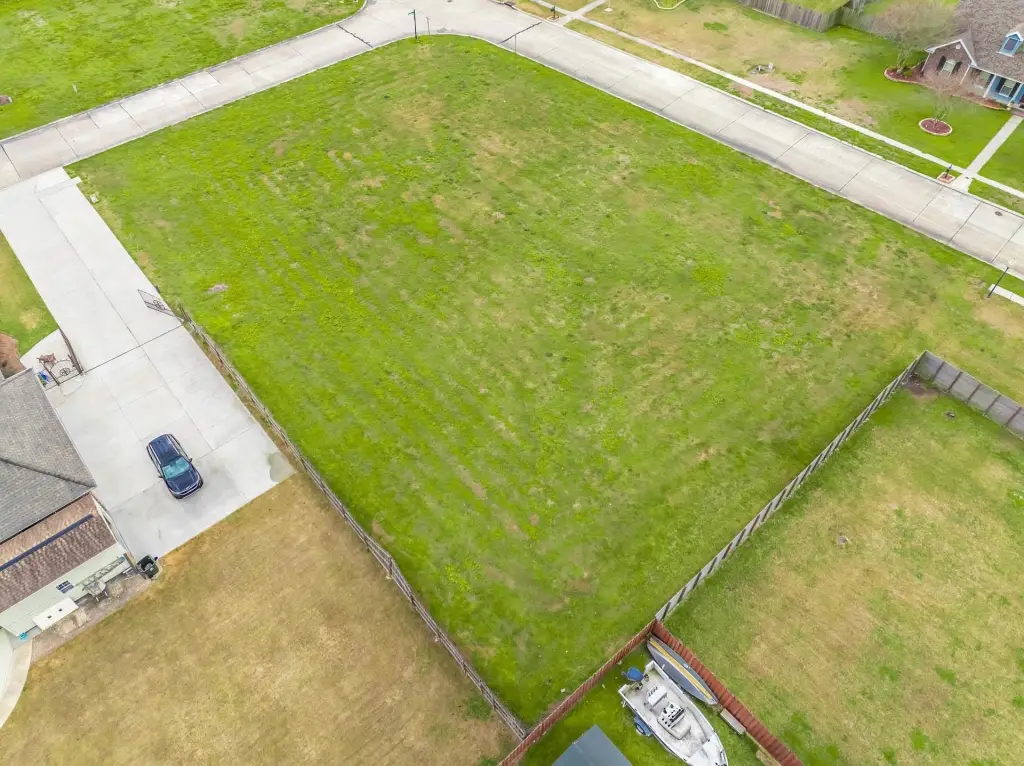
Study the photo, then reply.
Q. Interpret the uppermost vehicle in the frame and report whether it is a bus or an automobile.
automobile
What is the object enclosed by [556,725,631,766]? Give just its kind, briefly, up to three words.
shed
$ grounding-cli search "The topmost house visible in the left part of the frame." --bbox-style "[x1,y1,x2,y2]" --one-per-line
[0,370,104,547]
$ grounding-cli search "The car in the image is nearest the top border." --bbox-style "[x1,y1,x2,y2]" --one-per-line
[147,431,202,498]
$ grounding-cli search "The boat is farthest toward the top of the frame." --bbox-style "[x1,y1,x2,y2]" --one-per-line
[645,637,716,708]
